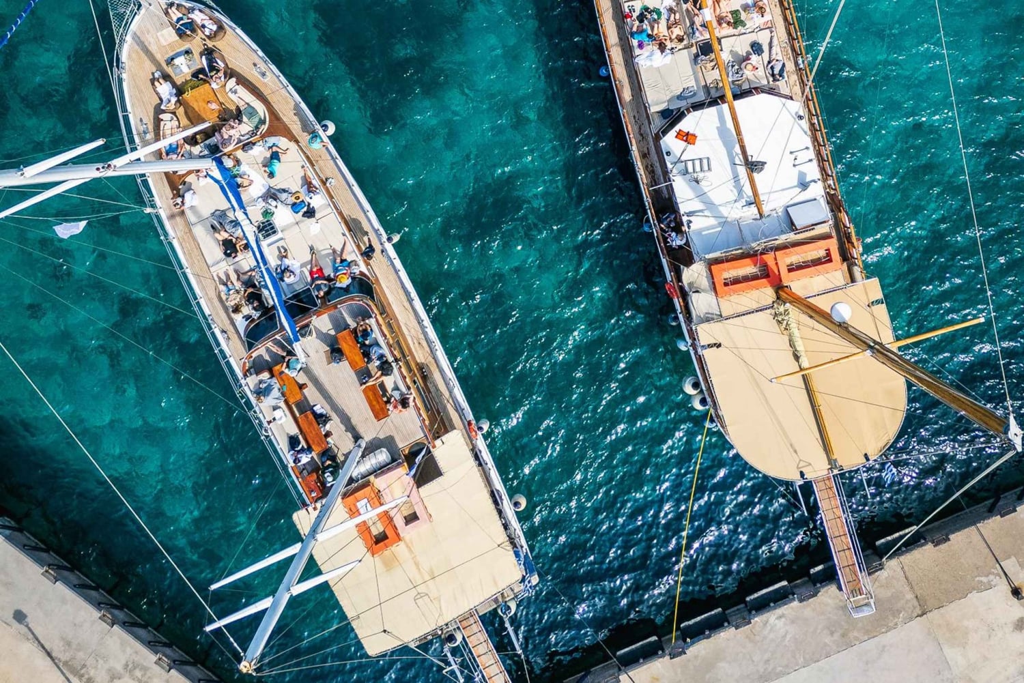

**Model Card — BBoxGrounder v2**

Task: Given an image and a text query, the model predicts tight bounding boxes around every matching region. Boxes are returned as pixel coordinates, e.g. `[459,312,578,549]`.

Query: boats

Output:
[0,0,537,671]
[594,0,1024,561]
